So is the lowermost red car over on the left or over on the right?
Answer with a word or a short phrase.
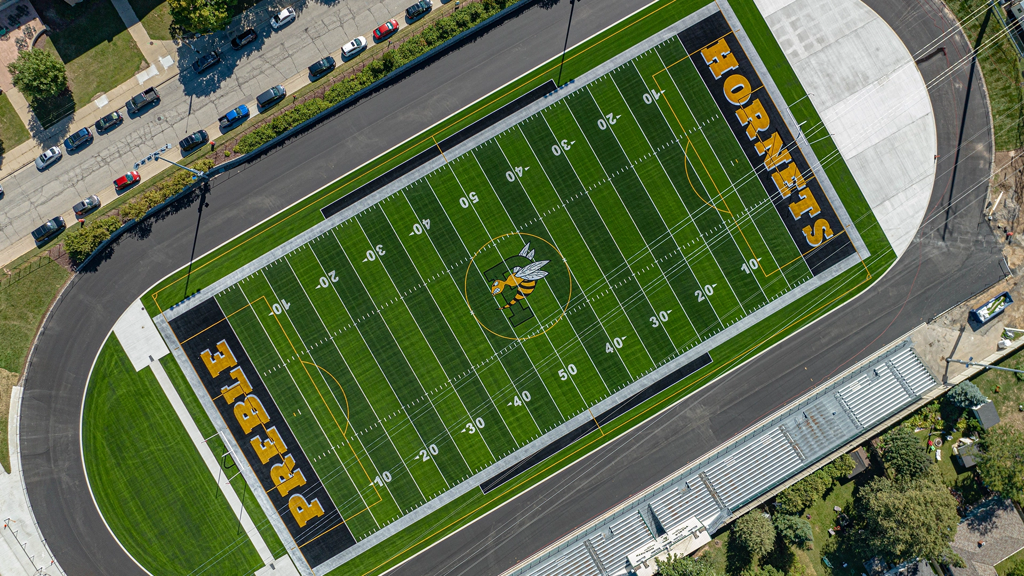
left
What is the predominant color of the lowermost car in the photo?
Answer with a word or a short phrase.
black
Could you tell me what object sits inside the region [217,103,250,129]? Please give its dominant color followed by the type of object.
blue truck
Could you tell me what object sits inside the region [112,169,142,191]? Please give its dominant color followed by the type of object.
red car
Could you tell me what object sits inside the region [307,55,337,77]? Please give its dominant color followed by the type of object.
black car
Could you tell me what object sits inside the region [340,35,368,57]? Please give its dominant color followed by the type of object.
white car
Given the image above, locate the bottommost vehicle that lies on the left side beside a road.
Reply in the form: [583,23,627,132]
[30,217,66,242]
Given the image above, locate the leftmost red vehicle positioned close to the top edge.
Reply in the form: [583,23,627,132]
[372,19,400,41]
